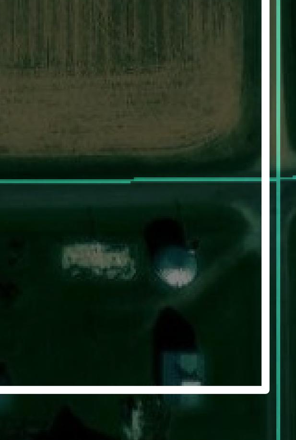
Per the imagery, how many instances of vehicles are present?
0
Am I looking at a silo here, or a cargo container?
silo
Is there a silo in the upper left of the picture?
No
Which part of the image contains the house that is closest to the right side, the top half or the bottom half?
bottom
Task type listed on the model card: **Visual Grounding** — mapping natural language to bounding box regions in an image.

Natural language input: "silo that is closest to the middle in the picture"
[152,245,195,289]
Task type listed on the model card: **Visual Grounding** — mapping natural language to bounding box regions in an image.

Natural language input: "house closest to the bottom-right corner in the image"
[159,350,208,414]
